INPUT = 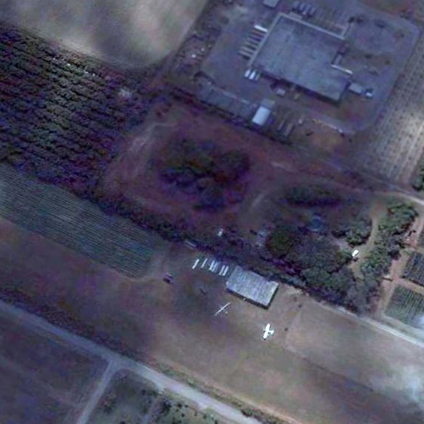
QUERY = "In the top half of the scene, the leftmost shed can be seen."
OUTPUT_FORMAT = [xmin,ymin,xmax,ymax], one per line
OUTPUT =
[196,80,253,117]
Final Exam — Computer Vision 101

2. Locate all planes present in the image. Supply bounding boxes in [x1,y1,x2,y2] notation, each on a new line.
[215,300,229,318]
[263,324,275,338]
